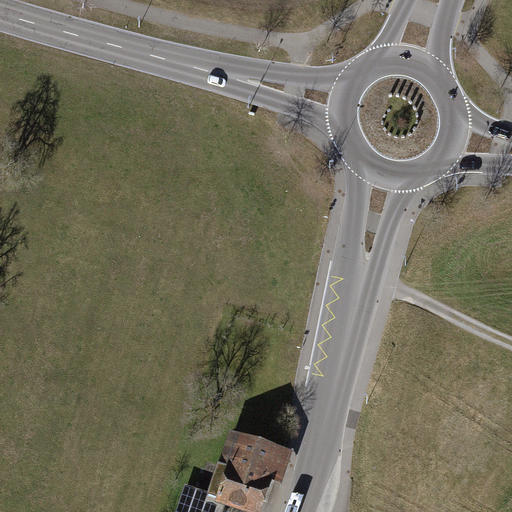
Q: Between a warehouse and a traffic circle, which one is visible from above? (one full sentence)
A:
Visible in the photo is a traffic circle.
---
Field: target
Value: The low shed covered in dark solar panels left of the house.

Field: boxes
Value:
[176,484,218,512]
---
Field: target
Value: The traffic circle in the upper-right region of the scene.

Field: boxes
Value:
[326,42,472,194]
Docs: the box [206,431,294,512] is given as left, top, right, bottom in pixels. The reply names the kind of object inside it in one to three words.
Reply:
house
